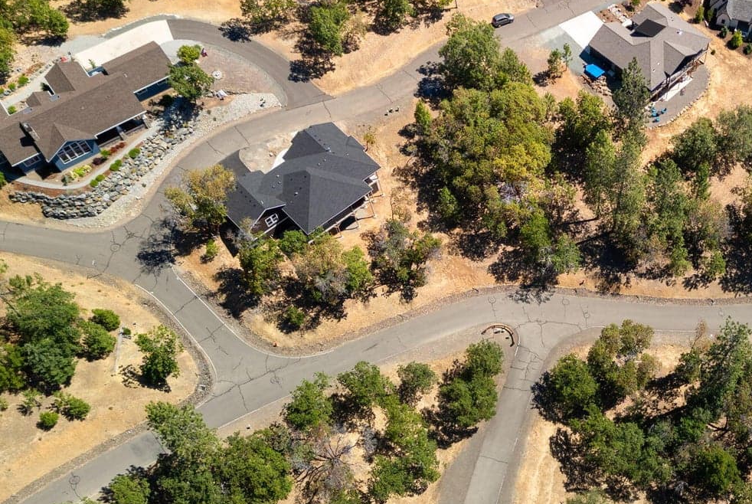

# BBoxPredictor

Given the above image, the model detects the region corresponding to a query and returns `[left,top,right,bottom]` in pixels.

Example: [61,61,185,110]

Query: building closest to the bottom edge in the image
[217,123,383,245]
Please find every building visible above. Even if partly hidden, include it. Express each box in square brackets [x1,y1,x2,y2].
[589,3,712,105]
[0,44,171,173]
[217,123,383,245]
[709,0,752,37]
